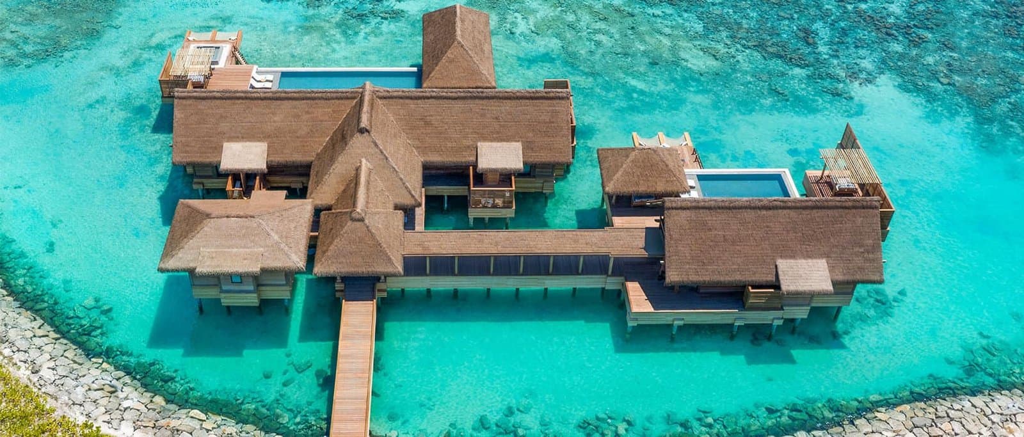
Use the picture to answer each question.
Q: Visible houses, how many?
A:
two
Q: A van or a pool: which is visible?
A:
pool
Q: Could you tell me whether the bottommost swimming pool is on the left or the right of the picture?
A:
right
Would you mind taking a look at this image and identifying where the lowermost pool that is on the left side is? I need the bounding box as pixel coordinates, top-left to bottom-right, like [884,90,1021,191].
[247,66,422,89]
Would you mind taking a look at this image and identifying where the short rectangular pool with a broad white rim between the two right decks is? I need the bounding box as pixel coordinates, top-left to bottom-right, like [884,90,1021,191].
[685,168,800,196]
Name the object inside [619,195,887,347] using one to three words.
house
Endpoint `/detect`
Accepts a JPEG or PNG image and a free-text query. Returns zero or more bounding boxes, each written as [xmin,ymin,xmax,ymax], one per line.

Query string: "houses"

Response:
[619,195,887,347]
[169,79,575,230]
